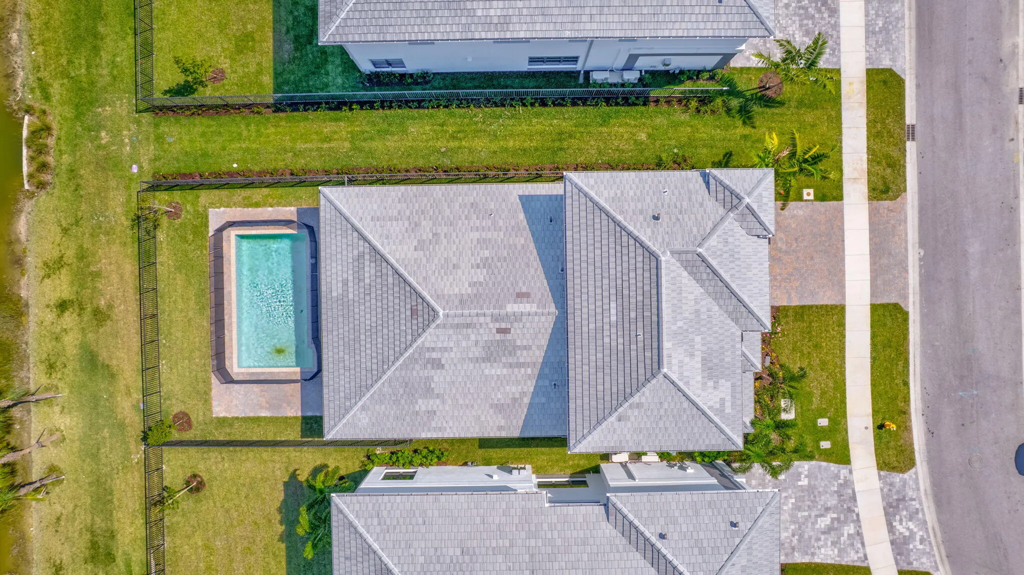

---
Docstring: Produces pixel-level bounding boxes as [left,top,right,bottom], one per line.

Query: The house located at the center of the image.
[318,162,780,455]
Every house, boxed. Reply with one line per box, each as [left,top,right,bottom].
[329,460,785,575]
[315,0,778,75]
[318,162,780,455]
